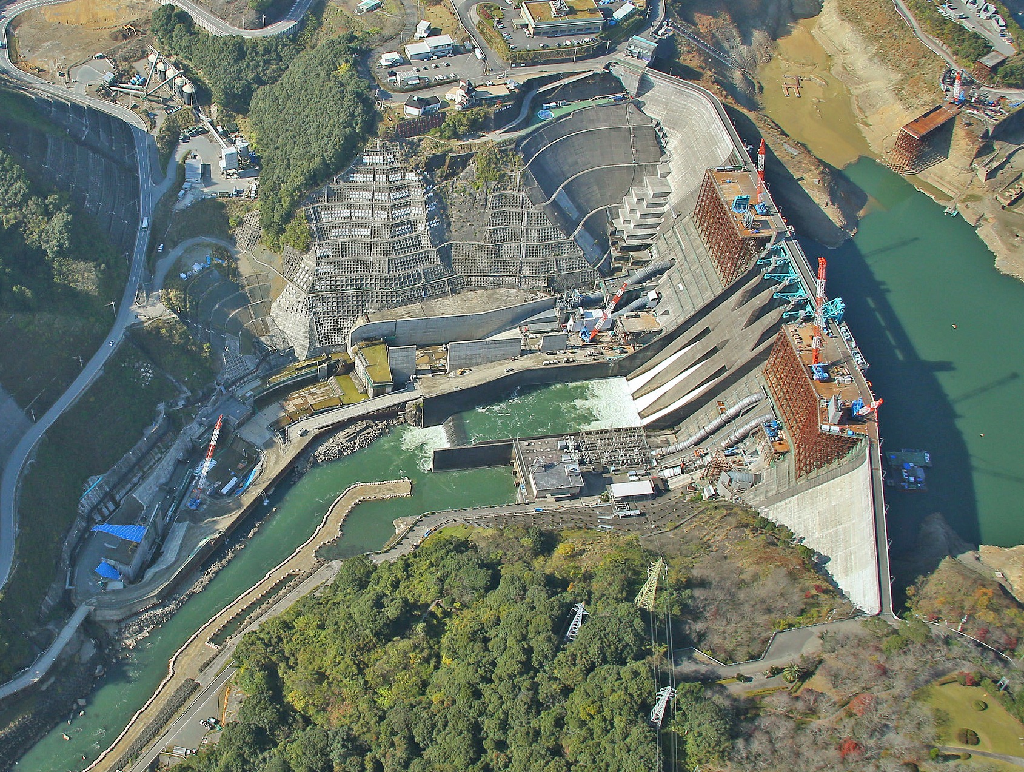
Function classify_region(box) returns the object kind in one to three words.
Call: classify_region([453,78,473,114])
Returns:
house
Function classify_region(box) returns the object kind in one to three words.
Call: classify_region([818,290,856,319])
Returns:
container crane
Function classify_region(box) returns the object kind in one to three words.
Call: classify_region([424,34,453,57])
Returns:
building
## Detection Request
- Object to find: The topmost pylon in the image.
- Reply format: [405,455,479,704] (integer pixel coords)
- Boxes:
[637,558,672,615]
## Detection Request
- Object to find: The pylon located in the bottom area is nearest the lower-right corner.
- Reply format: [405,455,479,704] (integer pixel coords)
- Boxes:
[649,683,682,728]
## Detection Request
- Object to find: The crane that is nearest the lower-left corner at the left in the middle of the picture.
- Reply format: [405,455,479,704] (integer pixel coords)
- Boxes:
[183,416,223,512]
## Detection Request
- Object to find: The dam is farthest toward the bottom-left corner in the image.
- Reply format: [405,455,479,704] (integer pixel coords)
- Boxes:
[441,411,467,445]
